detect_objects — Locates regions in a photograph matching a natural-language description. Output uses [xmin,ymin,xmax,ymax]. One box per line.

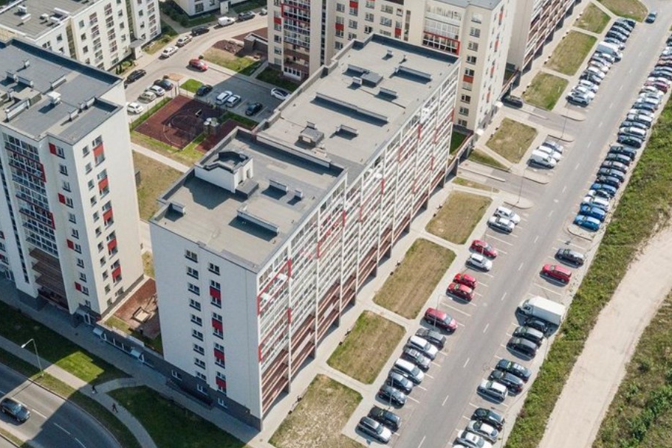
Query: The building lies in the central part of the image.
[147,31,464,431]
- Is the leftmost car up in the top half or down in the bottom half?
bottom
